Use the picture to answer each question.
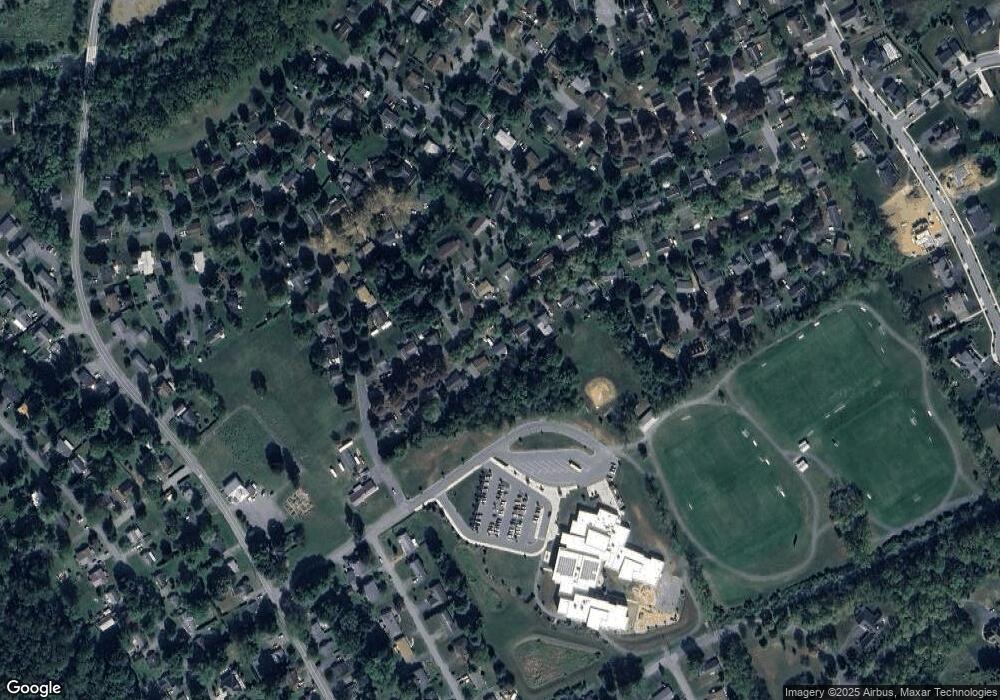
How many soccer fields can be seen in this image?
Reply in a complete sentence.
There are 3 soccer fields in the image.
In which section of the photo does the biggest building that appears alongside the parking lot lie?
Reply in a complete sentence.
You can find the biggest building that appears alongside the parking lot in the bottom area of the picture.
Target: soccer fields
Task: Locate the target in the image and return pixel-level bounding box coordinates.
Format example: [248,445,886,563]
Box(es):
[652,401,812,571]
[806,387,952,520]
[728,308,921,447]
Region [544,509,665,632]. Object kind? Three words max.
building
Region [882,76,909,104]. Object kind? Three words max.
house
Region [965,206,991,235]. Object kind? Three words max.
house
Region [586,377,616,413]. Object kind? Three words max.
baseball field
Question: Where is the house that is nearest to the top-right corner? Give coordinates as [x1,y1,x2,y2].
[965,8,994,34]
